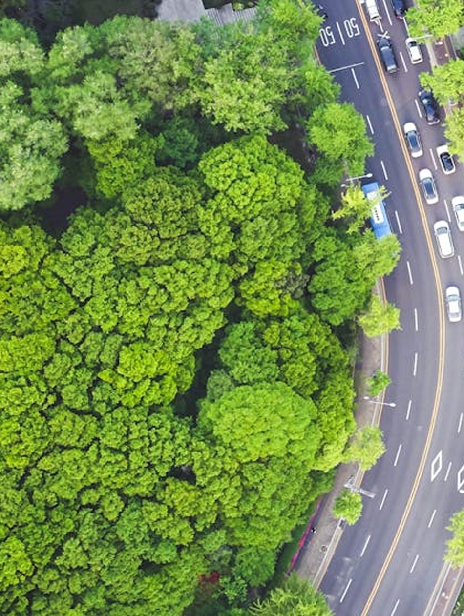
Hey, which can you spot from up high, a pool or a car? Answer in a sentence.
I can see a car in this picture.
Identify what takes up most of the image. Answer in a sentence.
What you mostly see from above here is trees.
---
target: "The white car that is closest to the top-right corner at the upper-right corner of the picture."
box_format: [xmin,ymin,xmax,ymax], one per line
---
[405,36,424,68]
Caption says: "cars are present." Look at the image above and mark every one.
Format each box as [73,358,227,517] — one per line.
[376,37,397,75]
[418,89,441,127]
[419,168,439,206]
[405,36,424,68]
[434,220,455,259]
[444,284,463,322]
[436,141,457,178]
[402,121,424,159]
[451,195,464,233]
[390,0,409,22]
